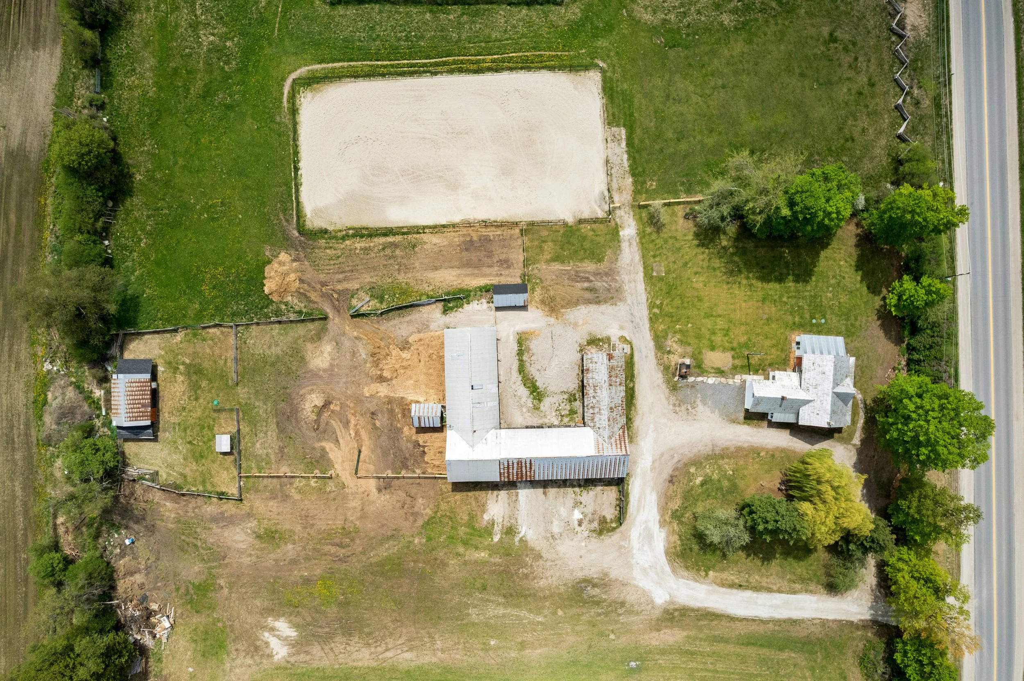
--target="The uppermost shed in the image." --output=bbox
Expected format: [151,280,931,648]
[493,284,528,307]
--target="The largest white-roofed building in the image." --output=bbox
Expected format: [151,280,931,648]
[444,326,631,482]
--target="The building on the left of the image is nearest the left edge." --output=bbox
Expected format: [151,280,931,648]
[112,359,160,439]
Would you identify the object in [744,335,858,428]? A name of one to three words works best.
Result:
house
